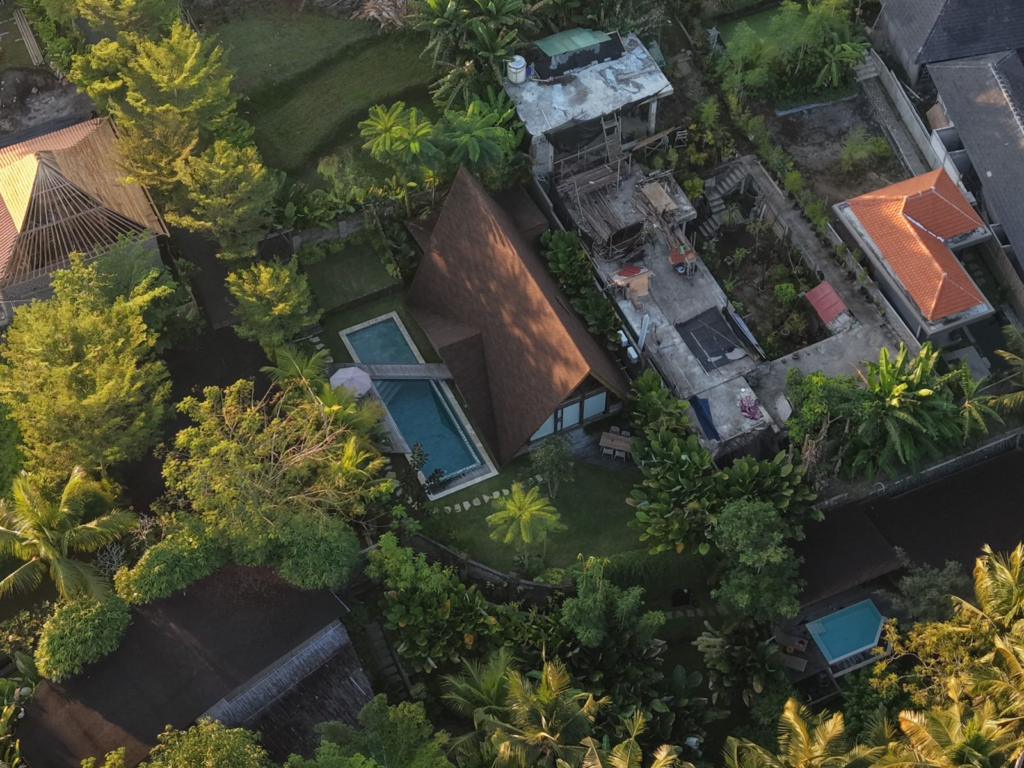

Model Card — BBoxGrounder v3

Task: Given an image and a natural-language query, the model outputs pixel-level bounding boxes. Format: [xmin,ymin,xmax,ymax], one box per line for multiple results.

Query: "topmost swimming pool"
[339,312,497,502]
